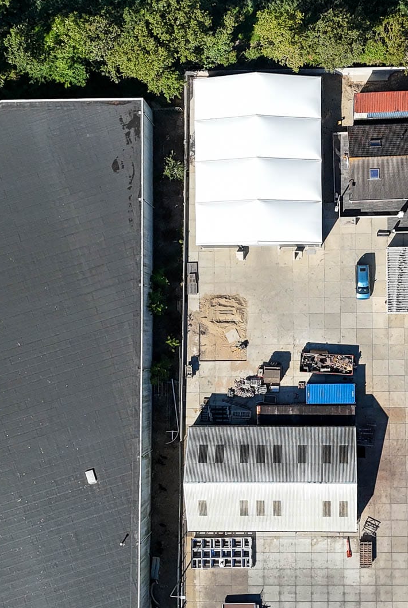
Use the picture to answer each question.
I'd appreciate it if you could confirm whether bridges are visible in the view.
No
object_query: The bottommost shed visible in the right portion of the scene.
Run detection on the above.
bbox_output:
[184,424,359,532]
